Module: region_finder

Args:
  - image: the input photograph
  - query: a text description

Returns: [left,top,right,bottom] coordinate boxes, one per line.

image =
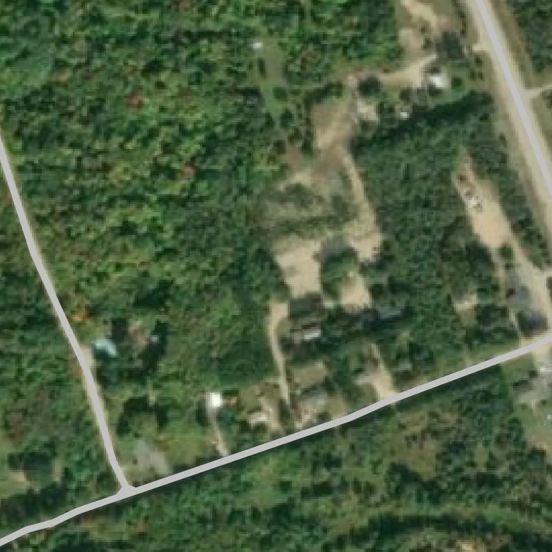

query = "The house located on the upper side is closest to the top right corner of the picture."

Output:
[439,29,461,56]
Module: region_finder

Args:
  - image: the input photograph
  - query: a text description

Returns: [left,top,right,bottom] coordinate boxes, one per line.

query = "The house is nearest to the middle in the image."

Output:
[292,329,320,342]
